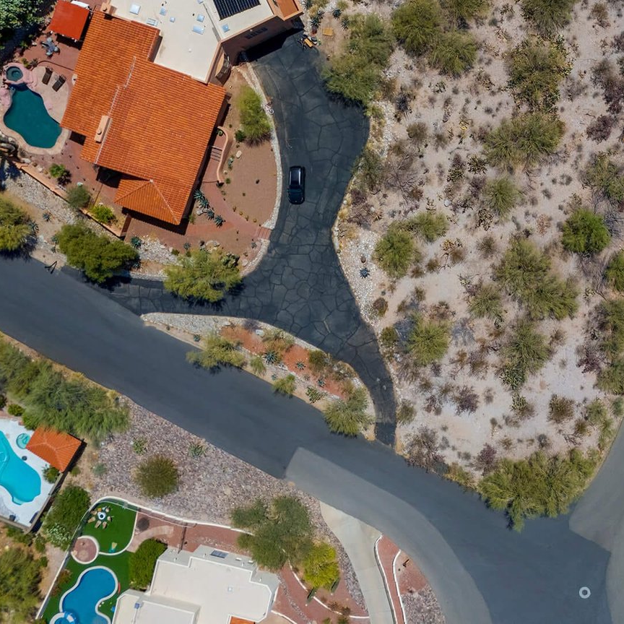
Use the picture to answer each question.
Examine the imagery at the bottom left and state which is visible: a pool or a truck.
pool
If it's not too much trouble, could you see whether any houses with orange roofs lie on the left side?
Yes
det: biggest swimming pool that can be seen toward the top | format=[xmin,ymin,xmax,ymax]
[2,81,63,149]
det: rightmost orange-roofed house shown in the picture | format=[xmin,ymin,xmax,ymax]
[61,0,310,225]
